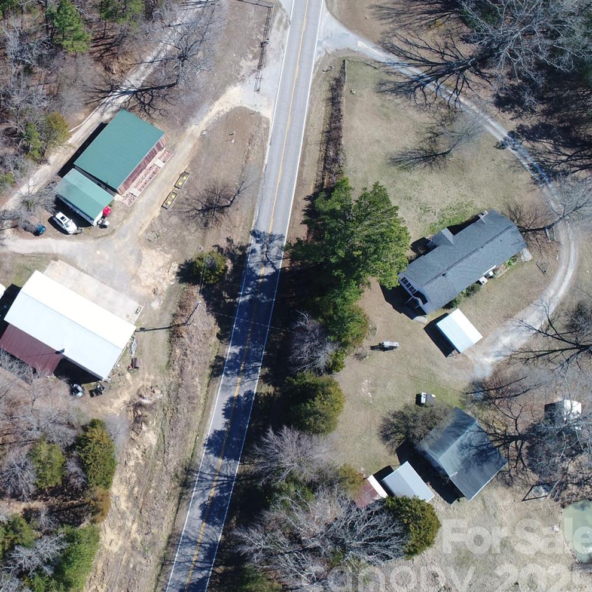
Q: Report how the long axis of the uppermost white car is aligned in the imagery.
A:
at an angle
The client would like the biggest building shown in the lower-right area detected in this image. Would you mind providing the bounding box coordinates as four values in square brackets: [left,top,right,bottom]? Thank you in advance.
[410,409,507,501]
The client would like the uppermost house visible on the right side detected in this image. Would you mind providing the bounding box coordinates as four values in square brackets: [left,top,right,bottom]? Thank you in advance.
[389,209,526,318]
